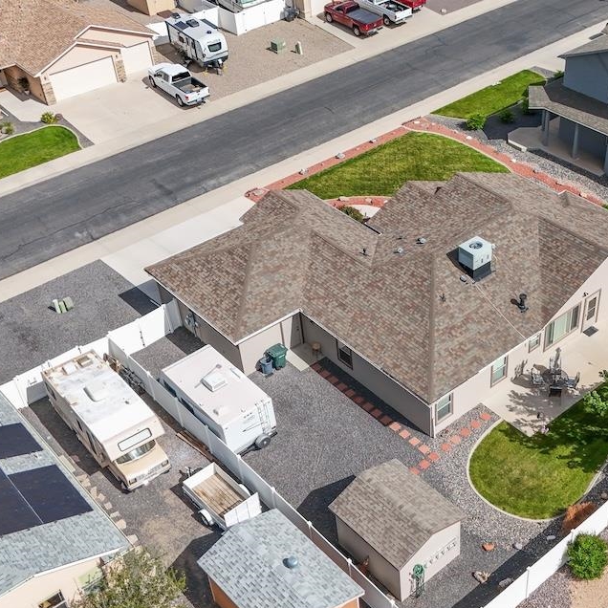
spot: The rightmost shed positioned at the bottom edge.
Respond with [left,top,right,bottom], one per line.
[330,461,463,601]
